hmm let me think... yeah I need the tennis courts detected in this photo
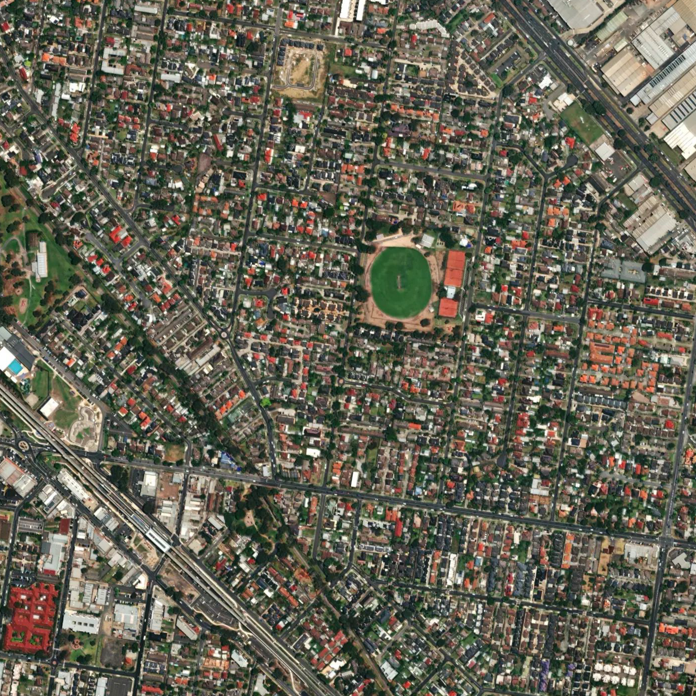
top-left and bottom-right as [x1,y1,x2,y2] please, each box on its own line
[448,251,466,269]
[438,299,458,317]
[445,269,464,286]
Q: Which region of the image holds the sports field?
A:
center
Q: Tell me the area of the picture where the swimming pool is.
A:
left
